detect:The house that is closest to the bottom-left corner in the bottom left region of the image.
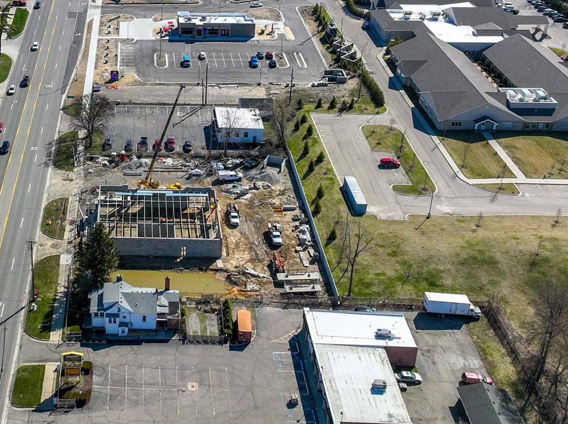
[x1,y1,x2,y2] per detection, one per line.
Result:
[84,274,181,348]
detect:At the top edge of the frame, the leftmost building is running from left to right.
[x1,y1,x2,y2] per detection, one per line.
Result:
[176,11,257,39]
